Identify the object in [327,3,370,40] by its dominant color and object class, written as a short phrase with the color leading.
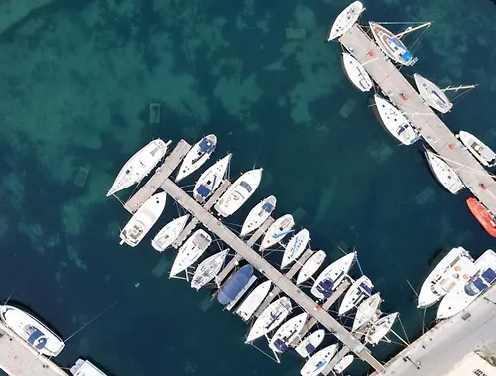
white boat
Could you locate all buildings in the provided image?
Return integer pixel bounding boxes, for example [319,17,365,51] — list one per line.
[456,351,496,376]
